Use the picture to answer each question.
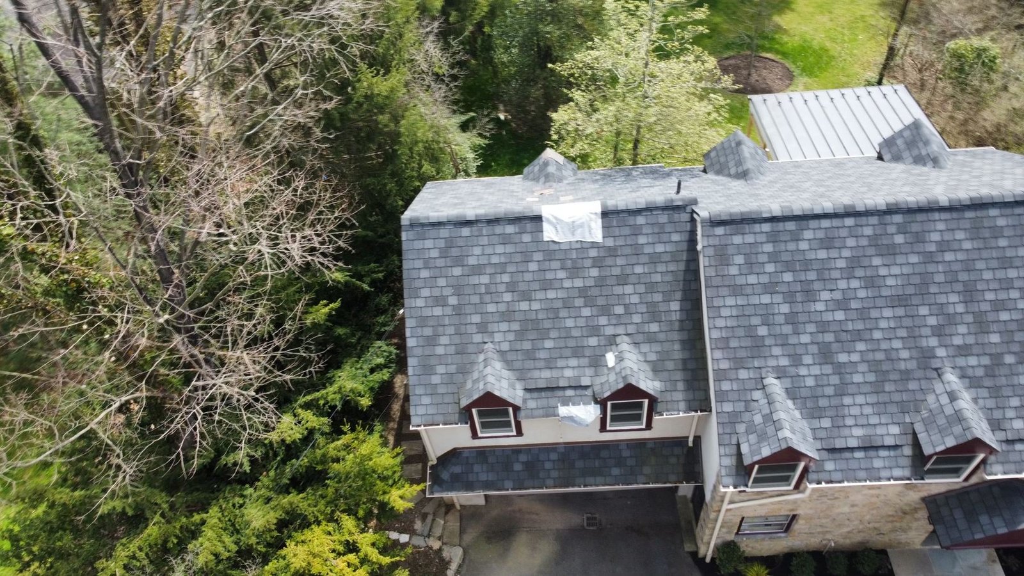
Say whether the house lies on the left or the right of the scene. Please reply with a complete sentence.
The house appears in the right half of the scene.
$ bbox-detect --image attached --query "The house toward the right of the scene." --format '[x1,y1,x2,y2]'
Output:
[398,117,1024,560]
